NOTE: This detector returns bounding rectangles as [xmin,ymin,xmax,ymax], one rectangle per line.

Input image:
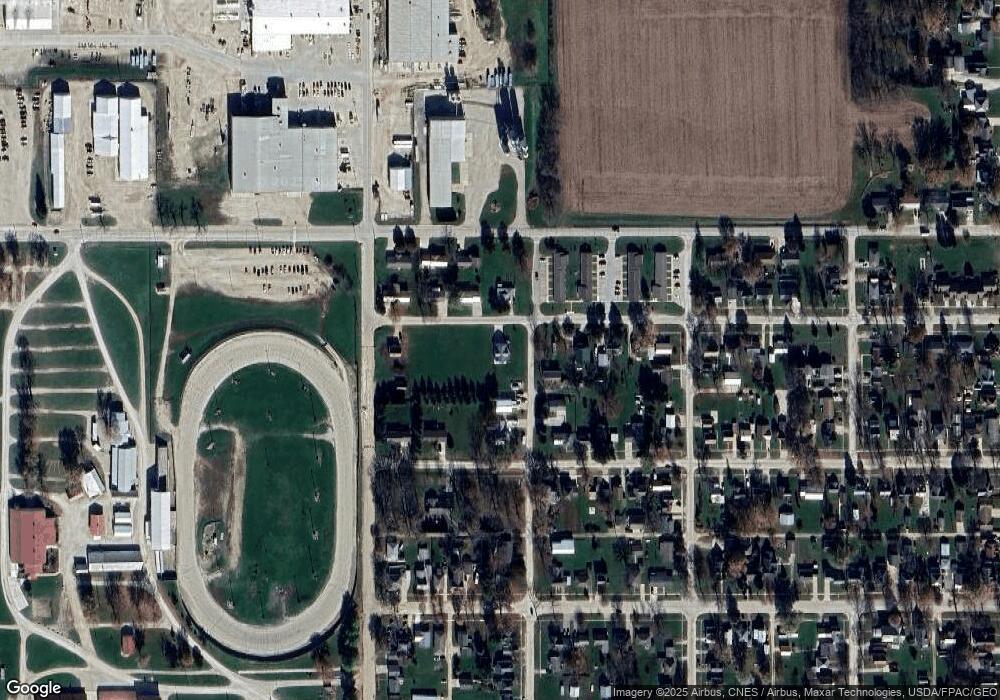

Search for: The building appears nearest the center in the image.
[493,345,512,364]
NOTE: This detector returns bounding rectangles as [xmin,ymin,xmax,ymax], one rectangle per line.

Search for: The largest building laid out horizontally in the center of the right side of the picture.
[935,271,999,296]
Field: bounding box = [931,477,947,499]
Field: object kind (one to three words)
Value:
house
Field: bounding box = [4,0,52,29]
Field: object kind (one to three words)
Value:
building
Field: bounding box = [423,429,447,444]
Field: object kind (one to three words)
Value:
house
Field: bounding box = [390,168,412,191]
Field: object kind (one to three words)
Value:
barn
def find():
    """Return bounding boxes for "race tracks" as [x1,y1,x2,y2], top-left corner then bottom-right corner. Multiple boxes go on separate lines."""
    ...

[175,326,360,662]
